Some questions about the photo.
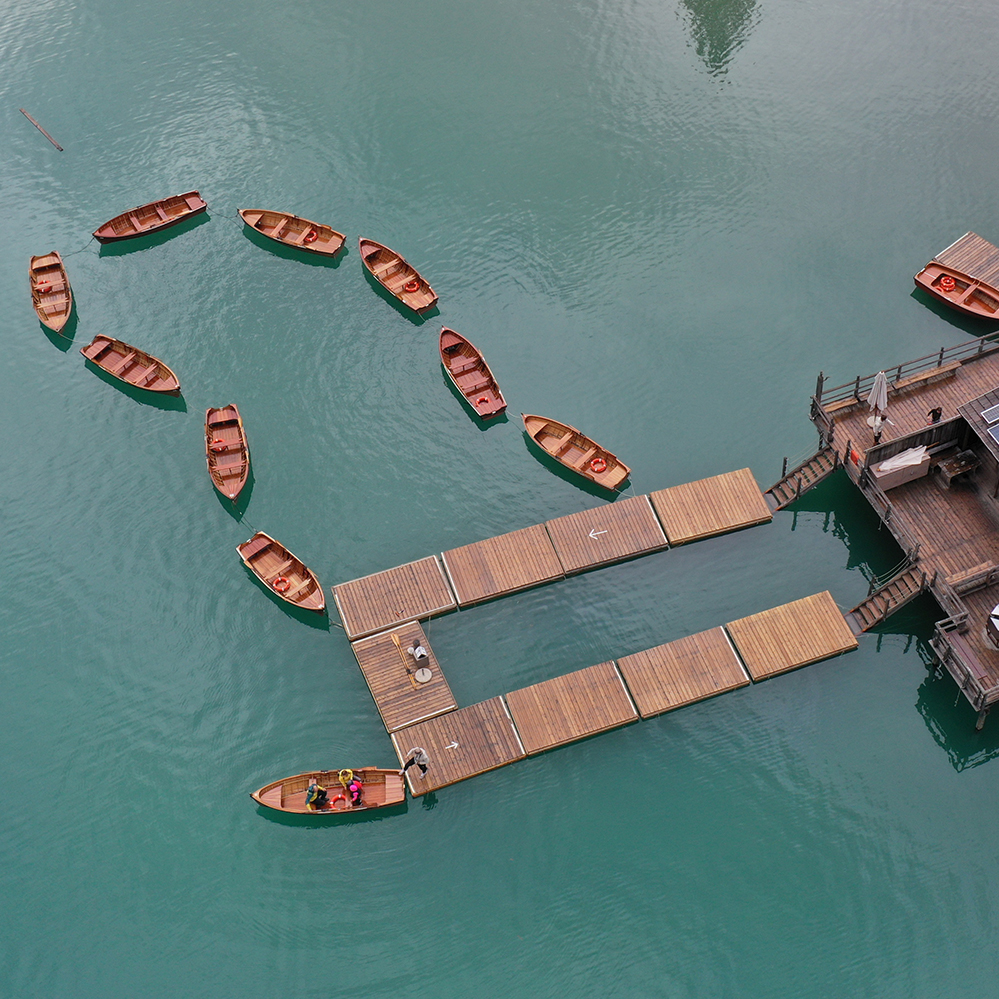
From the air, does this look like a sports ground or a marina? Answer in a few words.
marina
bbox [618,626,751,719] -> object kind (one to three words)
pier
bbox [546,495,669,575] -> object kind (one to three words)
pier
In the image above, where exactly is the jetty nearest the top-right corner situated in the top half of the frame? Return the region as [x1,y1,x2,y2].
[934,230,999,300]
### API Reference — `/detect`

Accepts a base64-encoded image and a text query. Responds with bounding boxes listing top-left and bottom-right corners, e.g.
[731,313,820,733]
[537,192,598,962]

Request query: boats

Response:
[522,411,631,492]
[234,528,328,617]
[237,206,346,259]
[440,323,507,420]
[92,188,207,243]
[915,260,999,322]
[204,402,249,501]
[358,234,439,315]
[79,333,180,394]
[28,250,72,336]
